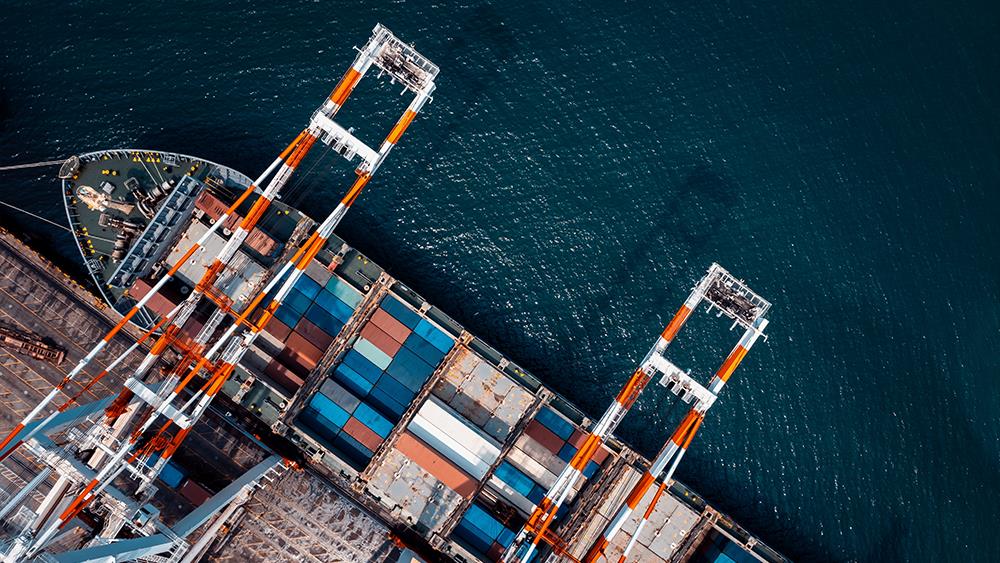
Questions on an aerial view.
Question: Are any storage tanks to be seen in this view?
No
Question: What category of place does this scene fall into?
port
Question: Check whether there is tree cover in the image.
No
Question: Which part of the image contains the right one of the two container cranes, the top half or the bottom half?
bottom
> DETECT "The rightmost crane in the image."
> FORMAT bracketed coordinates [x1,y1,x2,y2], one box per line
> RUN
[493,262,773,563]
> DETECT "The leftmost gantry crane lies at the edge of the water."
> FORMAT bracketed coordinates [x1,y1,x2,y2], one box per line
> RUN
[0,24,440,563]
